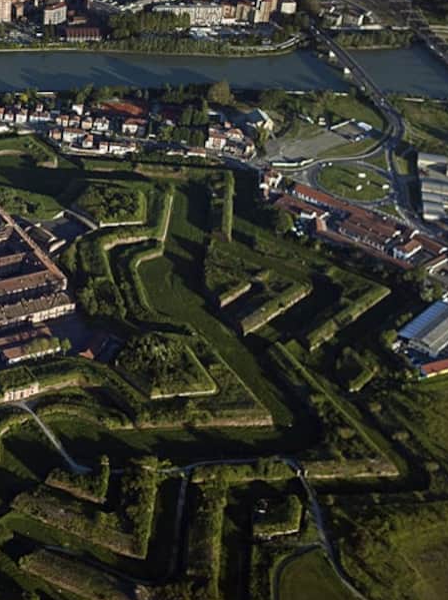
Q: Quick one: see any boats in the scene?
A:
No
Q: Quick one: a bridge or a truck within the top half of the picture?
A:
bridge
